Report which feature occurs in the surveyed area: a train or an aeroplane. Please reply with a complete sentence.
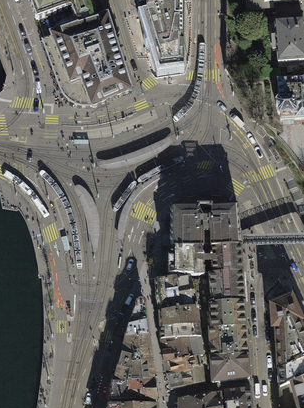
The image shows a train.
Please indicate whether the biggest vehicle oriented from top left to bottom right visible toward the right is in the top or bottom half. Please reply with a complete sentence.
You can find the biggest vehicle oriented from top left to bottom right visible toward the right in the top half.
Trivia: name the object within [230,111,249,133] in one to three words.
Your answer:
vehicle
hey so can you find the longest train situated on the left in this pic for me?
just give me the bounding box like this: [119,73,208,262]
[40,168,82,268]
